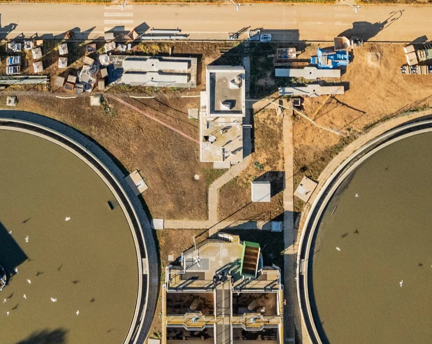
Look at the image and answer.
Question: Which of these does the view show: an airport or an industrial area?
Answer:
industrial area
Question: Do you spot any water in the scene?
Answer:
Yes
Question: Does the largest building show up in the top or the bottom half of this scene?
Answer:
top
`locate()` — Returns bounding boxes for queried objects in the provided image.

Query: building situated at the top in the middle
[200,66,246,117]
